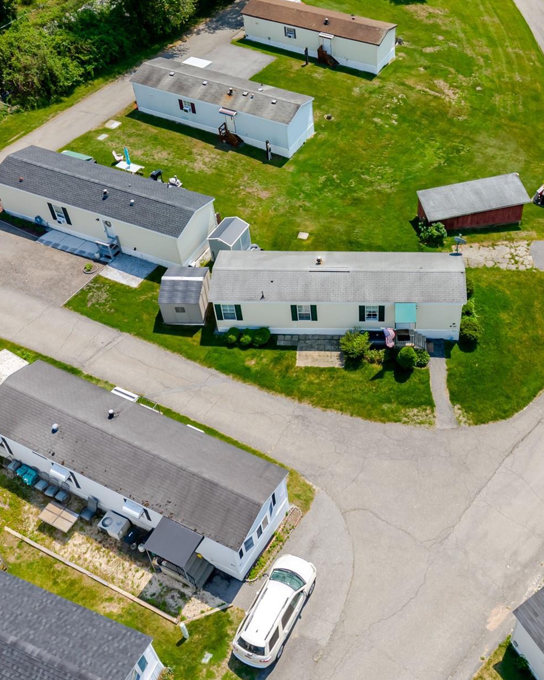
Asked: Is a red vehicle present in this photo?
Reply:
No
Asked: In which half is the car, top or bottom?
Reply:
bottom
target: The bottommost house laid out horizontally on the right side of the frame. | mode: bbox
[207,247,467,344]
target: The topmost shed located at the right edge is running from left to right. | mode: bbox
[417,172,532,232]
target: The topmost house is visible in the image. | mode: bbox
[239,0,398,74]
